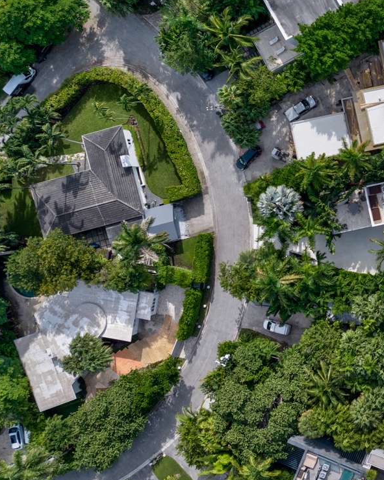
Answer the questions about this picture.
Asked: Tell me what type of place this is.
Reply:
residential area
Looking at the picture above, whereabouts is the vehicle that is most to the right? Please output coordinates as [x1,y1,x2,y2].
[283,94,320,122]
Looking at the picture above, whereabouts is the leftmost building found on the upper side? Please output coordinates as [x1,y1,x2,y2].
[29,125,152,249]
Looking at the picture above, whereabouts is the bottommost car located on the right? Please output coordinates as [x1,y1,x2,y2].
[263,317,294,336]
